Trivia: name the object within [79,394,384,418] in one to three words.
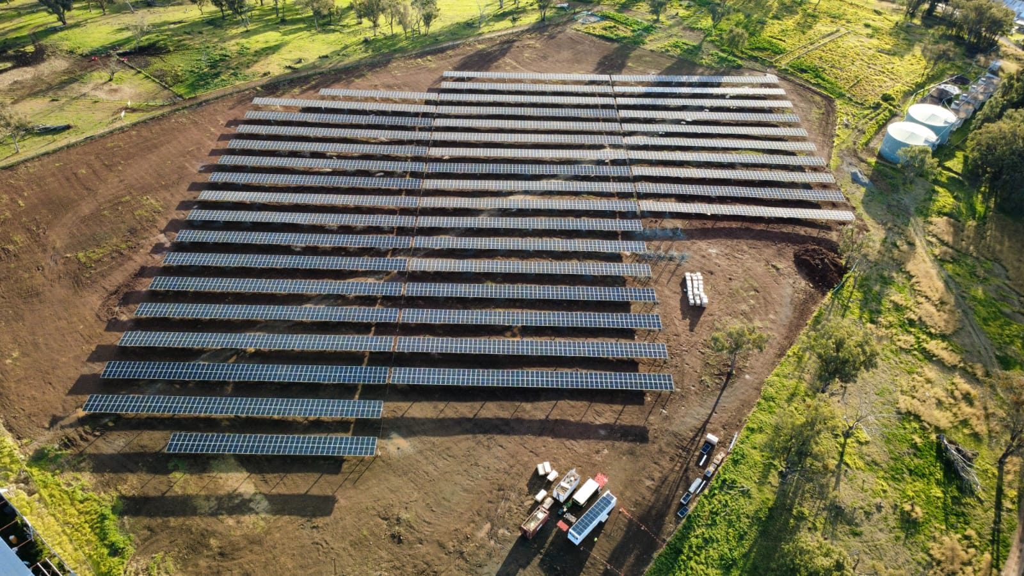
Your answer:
solar array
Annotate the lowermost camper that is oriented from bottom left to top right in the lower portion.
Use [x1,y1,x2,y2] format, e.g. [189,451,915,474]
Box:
[568,490,617,542]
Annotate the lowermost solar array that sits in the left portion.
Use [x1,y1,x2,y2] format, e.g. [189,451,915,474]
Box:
[164,433,378,456]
